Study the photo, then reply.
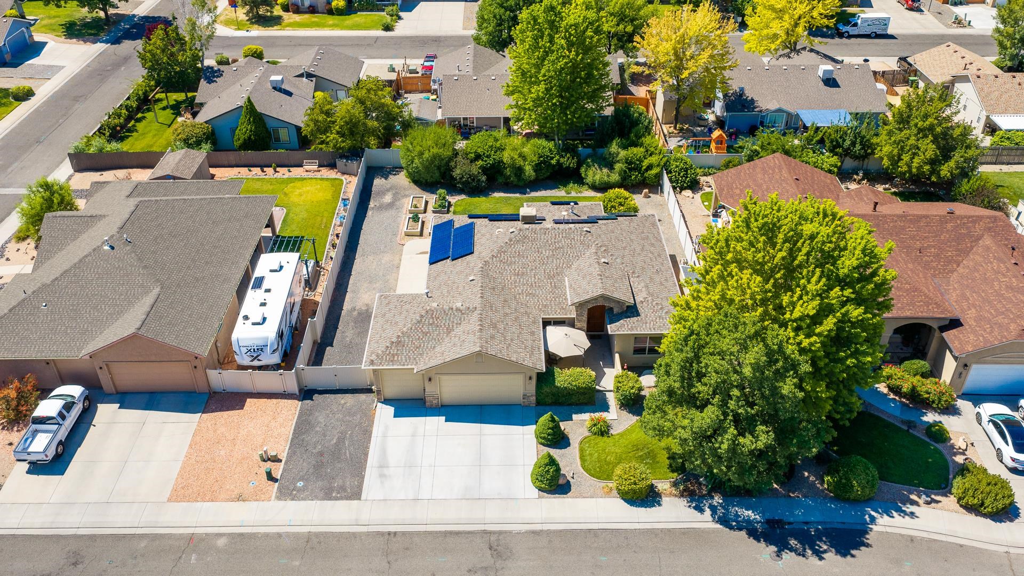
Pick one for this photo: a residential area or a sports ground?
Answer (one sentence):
The picture captures a residential area.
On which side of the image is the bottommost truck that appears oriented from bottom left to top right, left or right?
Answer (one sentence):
You can find the bottommost truck that appears oriented from bottom left to top right on the left side of the picture.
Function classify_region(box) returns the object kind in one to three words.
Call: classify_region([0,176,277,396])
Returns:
house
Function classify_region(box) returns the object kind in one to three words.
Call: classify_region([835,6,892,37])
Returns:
truck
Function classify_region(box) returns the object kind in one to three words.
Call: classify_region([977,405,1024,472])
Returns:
car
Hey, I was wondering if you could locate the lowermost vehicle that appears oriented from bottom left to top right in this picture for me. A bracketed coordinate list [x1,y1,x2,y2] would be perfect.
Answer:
[9,387,90,471]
